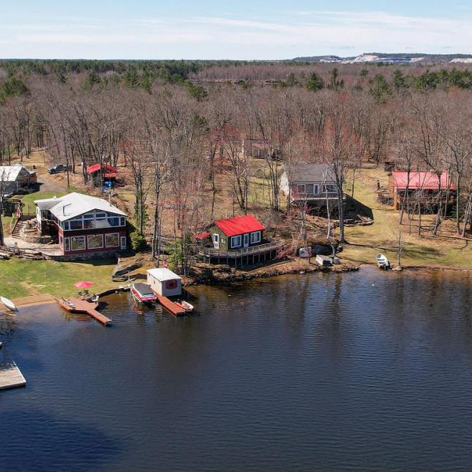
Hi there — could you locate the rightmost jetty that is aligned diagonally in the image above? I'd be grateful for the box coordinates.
[159,296,192,317]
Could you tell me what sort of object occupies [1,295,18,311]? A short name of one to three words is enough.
boat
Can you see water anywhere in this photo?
Yes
